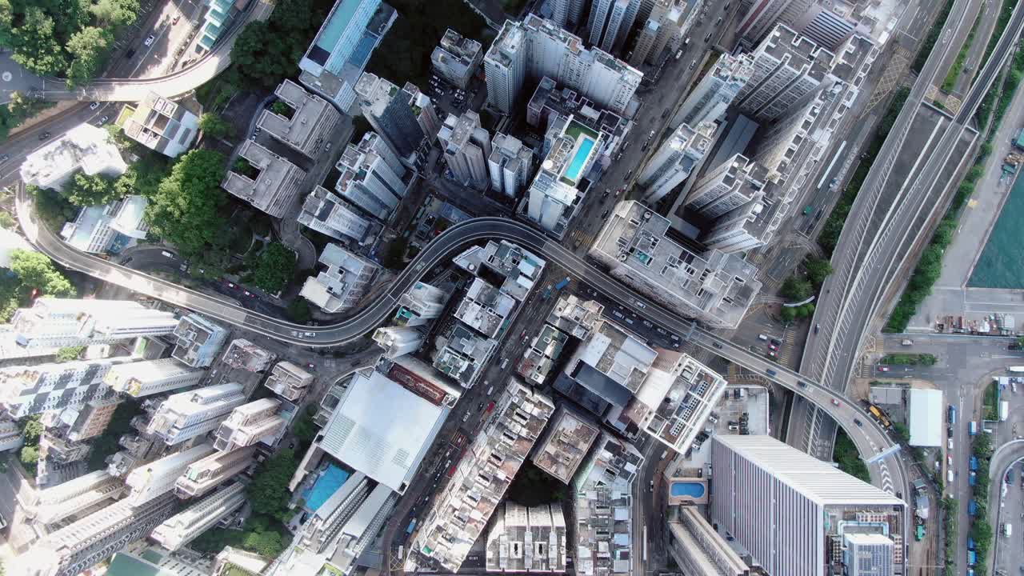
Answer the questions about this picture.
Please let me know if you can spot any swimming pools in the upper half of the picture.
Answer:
Yes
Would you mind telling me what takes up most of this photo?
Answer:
buildings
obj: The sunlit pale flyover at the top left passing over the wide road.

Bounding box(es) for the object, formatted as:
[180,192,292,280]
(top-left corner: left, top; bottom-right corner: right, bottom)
[43,0,274,101]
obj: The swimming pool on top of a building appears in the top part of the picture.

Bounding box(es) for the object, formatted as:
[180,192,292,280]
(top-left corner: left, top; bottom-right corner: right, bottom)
[565,138,593,180]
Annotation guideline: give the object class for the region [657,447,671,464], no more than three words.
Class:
vehicle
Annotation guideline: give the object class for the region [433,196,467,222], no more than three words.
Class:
shed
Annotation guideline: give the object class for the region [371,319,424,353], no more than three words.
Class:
building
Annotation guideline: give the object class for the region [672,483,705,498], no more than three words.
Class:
swimming pool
